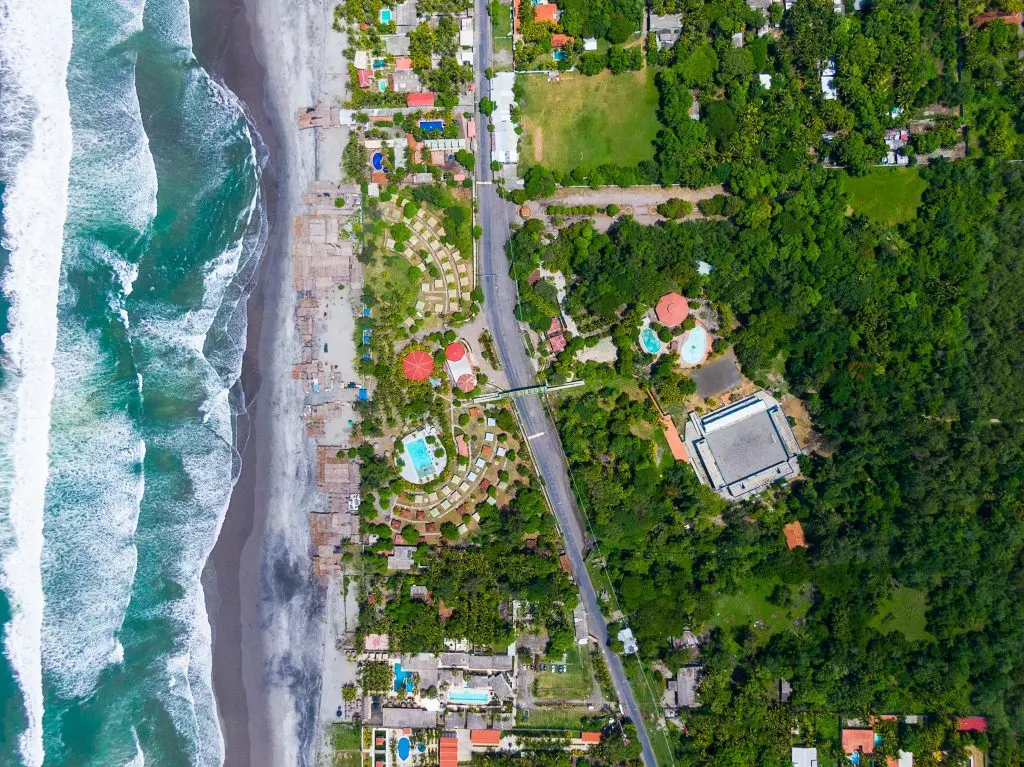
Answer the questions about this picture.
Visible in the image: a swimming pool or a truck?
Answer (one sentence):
This aerial view contains a swimming pool.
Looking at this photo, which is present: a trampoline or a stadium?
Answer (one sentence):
This aerial view contains a stadium.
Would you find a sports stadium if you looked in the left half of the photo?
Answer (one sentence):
No, no sports stadium appears in the left half of the photo.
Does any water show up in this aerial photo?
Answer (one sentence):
Yes, water shows up in the scene.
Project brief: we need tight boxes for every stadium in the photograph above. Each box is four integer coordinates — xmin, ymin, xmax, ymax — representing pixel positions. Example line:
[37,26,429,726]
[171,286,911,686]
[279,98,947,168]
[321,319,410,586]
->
[686,391,801,500]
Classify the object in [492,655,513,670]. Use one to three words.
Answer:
house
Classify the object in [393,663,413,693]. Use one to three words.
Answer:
swimming pool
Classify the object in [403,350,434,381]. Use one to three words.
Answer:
building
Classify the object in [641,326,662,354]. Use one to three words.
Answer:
swimming pool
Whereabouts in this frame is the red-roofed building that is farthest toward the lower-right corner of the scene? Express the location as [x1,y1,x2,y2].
[954,715,988,731]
